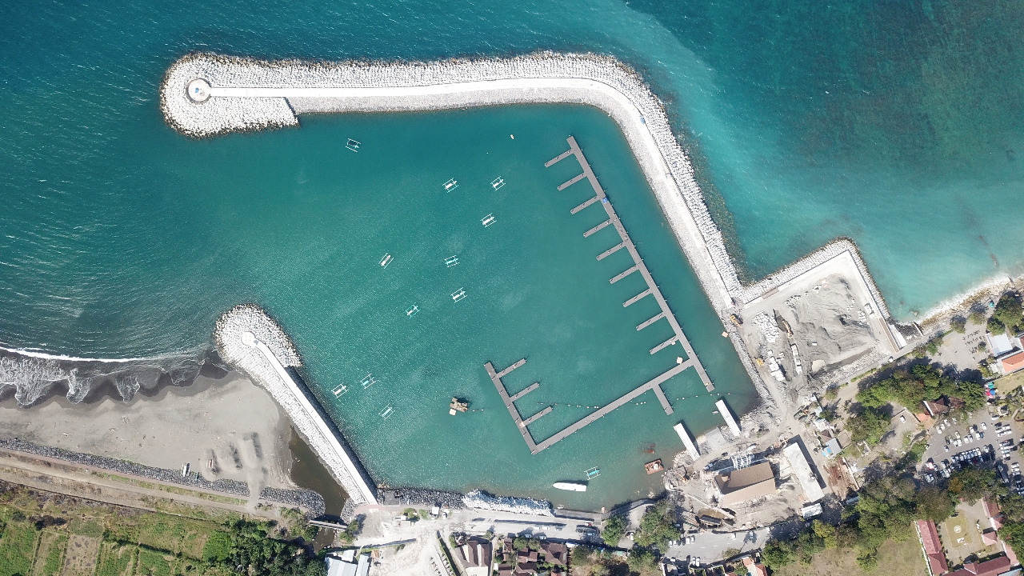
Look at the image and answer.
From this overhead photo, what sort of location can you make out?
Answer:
port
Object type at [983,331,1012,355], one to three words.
building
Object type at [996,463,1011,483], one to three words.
vehicle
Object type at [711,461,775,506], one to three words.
building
